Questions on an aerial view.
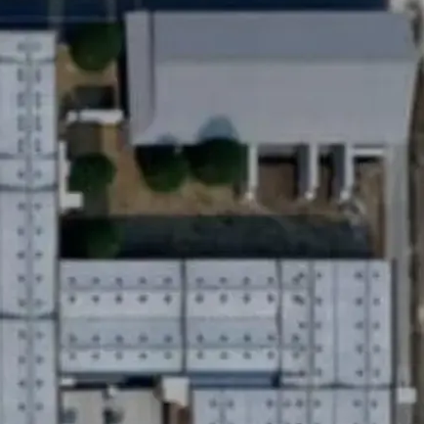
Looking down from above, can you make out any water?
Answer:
No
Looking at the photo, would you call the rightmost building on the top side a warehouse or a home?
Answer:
warehouse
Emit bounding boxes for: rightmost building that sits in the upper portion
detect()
[118,11,413,198]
